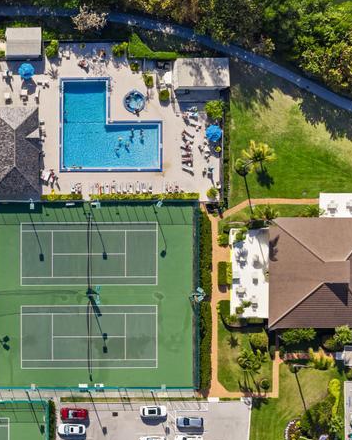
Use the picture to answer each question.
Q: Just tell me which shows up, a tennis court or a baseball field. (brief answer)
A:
tennis court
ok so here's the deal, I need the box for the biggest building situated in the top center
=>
[170,58,231,90]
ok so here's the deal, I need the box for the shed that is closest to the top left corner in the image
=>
[6,27,42,61]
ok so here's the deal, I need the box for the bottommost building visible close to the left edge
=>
[0,106,42,201]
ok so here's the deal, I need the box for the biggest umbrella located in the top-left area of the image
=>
[18,63,34,79]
